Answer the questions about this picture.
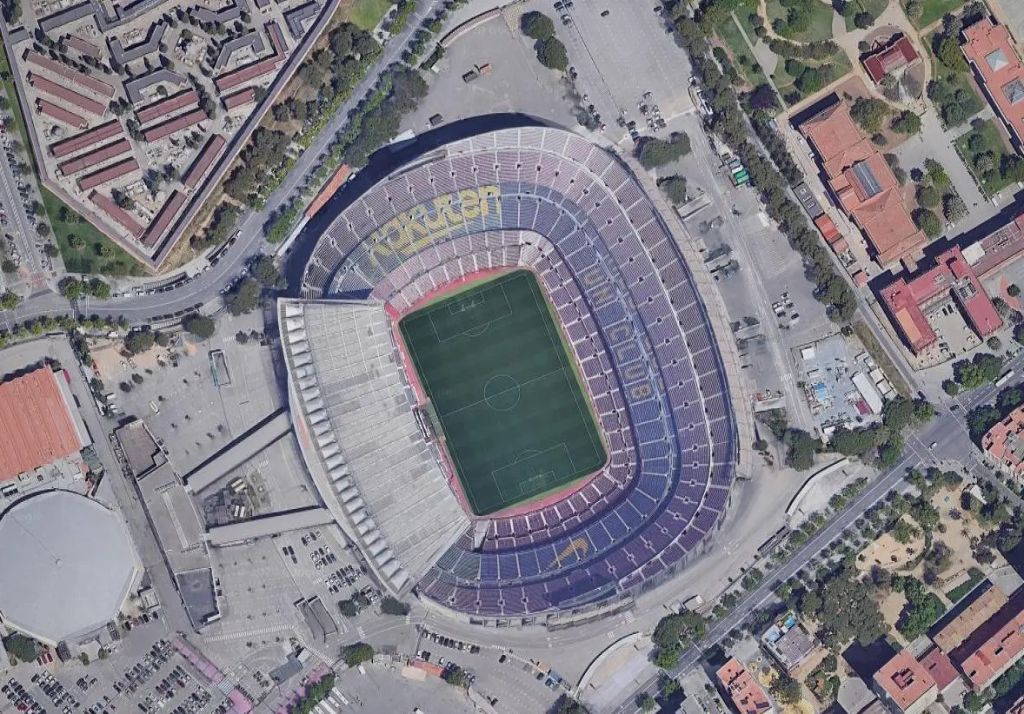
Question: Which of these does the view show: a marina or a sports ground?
sports ground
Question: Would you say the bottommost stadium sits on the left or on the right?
left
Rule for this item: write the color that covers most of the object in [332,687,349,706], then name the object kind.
white vehicle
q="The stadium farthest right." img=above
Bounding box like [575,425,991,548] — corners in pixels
[277,118,764,638]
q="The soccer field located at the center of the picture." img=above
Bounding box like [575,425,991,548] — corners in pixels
[396,264,610,524]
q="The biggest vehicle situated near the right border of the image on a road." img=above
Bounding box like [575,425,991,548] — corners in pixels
[994,373,1012,388]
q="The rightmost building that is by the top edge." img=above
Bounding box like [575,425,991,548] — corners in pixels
[959,16,1024,164]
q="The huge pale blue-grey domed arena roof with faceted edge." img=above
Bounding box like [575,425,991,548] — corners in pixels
[0,488,138,645]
